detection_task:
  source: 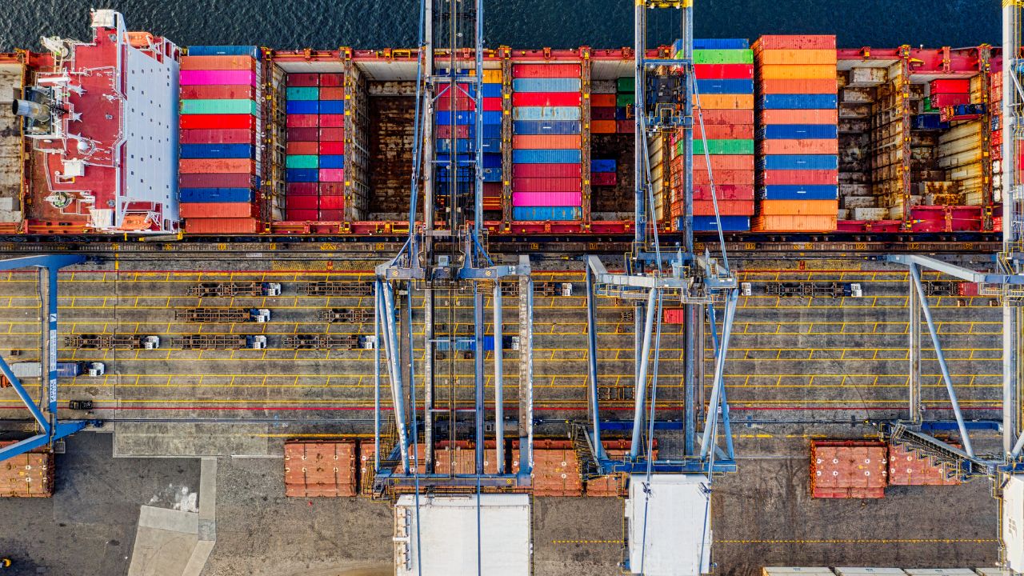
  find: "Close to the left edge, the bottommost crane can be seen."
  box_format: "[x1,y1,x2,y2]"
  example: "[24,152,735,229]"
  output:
[0,254,105,464]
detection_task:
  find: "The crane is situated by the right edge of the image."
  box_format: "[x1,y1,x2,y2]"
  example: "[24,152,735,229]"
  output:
[863,0,1024,573]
